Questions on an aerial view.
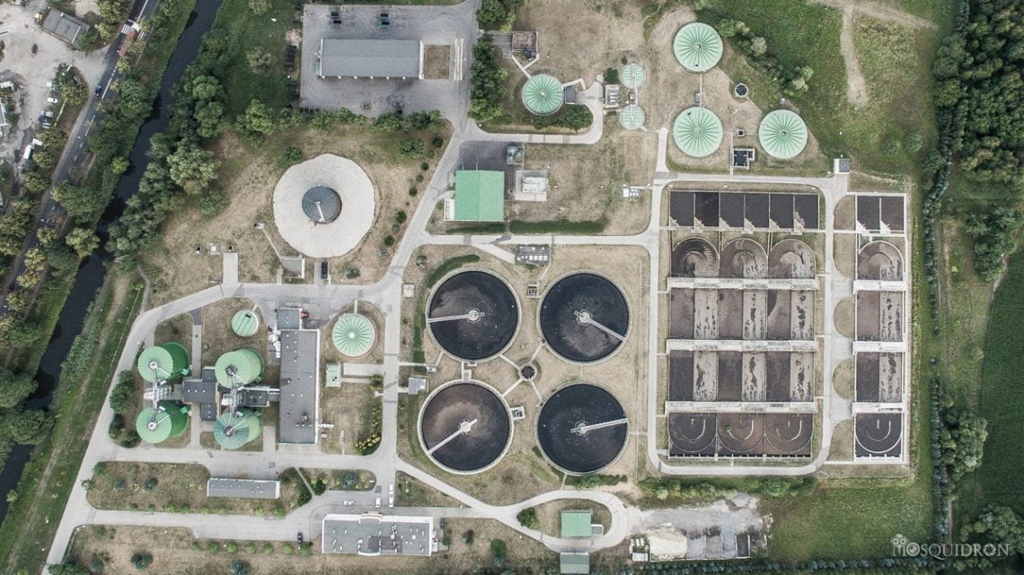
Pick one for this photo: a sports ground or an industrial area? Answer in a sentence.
The area seen from above is an industrial area.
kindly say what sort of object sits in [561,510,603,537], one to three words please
shed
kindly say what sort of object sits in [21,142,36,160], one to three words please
vehicle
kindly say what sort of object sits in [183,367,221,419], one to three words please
building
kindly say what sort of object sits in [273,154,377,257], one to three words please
storage tank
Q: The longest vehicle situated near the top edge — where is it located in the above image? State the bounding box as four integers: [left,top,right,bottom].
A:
[118,23,140,56]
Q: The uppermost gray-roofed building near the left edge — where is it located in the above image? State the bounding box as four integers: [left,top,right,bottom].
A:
[43,8,95,46]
